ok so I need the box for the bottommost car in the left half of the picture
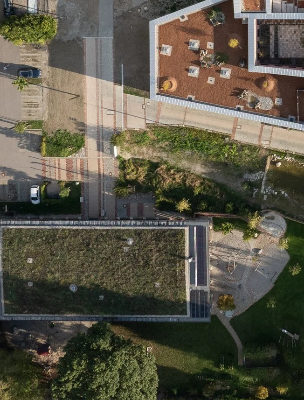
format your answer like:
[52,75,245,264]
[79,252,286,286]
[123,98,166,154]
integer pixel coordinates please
[26,185,40,207]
